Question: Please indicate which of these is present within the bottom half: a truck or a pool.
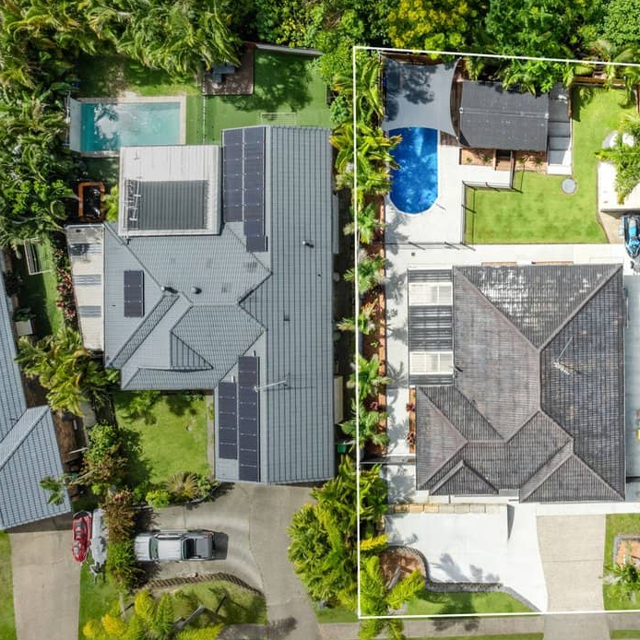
truck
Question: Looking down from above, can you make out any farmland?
No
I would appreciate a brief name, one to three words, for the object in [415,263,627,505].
house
